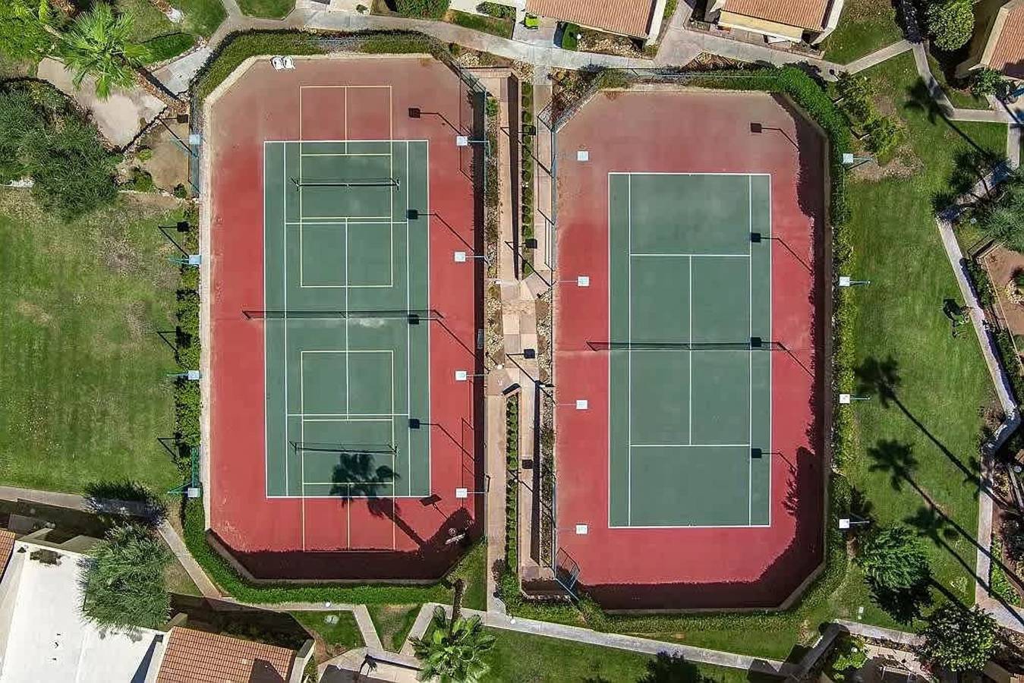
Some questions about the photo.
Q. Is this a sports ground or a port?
sports ground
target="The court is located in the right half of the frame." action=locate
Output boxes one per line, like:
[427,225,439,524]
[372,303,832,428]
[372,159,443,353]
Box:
[557,92,824,609]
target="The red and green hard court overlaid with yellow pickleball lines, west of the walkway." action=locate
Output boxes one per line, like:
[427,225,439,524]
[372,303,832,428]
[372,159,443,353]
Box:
[210,59,484,578]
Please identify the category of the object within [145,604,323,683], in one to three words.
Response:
house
